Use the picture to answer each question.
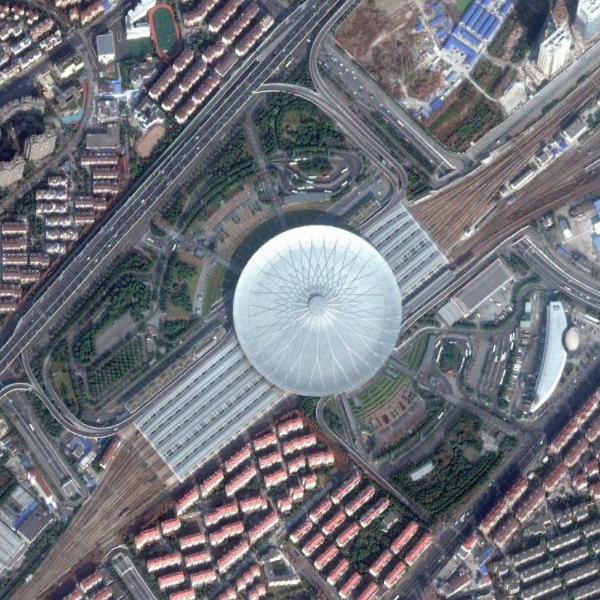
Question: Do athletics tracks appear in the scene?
Yes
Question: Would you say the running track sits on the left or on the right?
left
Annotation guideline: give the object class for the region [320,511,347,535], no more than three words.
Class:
building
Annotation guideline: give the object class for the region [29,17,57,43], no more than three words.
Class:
house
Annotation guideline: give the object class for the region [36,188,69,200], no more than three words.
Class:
building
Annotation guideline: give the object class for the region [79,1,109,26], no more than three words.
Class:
house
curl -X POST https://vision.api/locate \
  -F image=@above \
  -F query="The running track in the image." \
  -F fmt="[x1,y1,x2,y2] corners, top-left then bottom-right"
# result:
[149,3,182,60]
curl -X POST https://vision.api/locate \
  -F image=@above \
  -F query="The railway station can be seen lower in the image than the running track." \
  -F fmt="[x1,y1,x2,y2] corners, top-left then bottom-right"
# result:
[133,202,448,479]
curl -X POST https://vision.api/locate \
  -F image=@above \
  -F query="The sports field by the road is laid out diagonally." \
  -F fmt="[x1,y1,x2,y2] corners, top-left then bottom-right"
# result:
[133,124,166,159]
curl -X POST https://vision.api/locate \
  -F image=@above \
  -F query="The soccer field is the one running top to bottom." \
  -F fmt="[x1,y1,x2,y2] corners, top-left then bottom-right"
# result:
[153,8,178,56]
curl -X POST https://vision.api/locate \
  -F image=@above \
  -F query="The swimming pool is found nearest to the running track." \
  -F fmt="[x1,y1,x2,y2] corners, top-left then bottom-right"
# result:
[60,110,84,124]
